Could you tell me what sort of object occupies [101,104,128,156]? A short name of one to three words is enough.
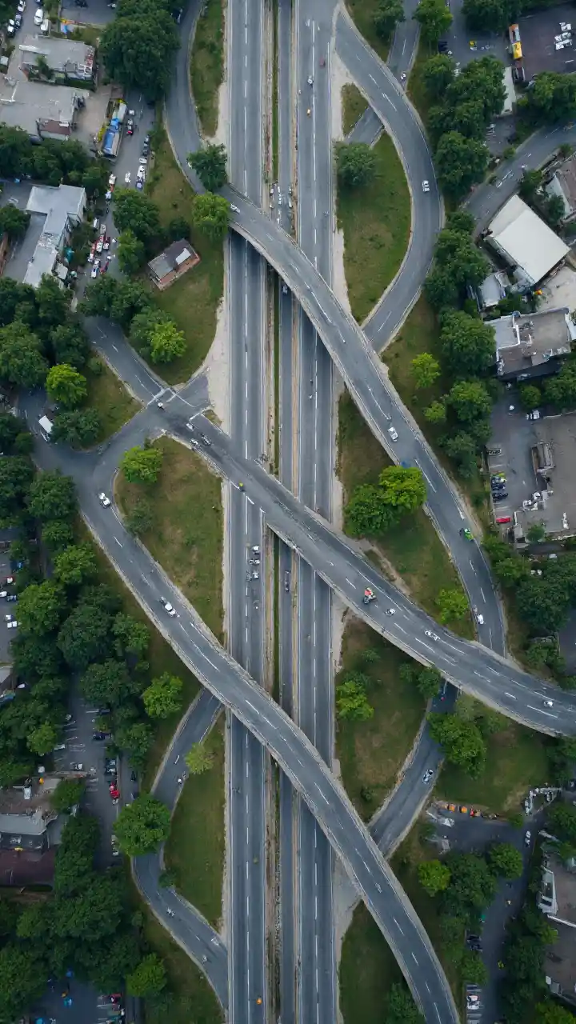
truck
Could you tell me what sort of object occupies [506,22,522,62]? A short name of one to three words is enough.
vehicle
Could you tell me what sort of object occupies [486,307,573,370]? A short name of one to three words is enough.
building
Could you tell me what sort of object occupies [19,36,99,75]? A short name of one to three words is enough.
house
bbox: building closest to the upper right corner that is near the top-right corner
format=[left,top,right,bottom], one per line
[499,67,516,121]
